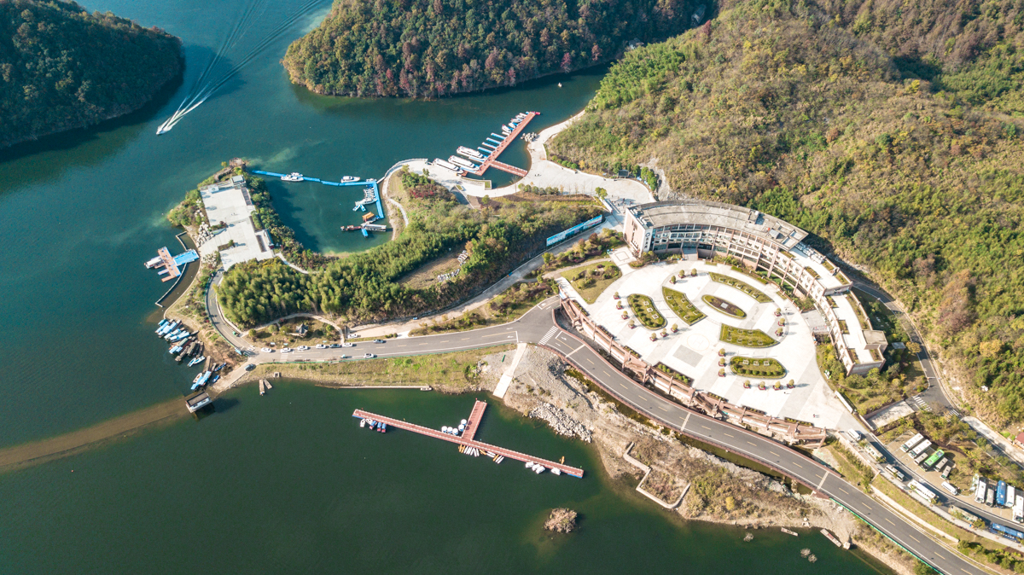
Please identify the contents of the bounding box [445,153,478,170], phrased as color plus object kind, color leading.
white boat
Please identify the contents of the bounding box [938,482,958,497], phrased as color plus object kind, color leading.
white vehicle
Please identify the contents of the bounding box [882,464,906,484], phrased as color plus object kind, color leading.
white bus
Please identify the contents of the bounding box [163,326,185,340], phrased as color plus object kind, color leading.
white boat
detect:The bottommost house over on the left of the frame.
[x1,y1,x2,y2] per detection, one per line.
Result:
[179,387,215,419]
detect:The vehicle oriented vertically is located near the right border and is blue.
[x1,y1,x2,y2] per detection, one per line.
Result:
[992,480,1006,510]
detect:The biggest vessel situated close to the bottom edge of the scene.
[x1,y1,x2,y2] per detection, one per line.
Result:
[818,528,841,549]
